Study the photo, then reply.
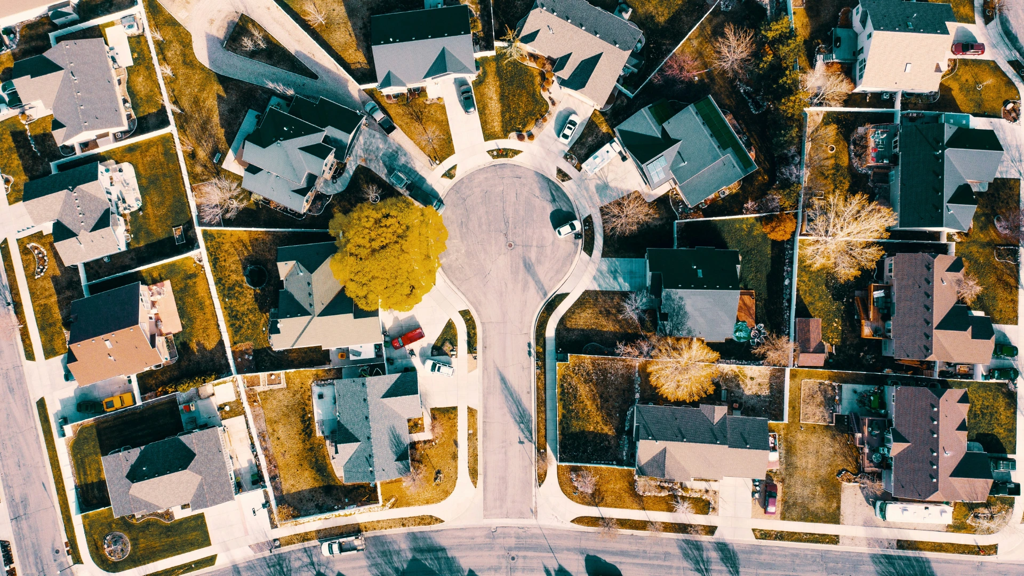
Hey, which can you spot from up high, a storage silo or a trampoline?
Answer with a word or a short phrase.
trampoline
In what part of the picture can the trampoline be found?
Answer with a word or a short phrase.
left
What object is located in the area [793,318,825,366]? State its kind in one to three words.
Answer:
shed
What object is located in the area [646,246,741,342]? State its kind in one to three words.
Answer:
house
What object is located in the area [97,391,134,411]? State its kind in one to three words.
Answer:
vehicle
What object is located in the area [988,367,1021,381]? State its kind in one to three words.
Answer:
car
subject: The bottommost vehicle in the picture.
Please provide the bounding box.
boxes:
[321,538,364,557]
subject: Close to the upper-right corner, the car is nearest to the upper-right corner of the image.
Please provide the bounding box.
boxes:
[954,40,987,55]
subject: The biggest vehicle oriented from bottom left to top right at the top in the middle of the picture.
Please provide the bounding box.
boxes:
[586,139,625,172]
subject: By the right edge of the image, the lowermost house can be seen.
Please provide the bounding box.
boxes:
[885,384,994,502]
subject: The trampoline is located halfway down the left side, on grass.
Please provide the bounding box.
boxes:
[239,263,268,289]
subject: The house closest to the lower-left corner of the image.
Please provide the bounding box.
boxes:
[101,426,238,518]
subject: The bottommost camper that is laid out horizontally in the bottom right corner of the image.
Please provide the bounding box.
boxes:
[877,504,962,526]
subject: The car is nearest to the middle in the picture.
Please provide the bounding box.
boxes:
[555,220,582,239]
